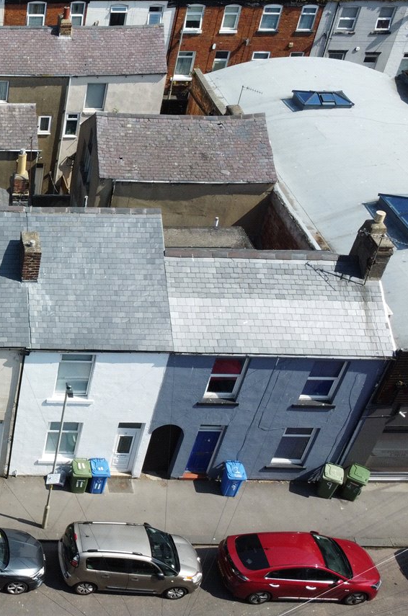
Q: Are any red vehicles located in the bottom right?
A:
Yes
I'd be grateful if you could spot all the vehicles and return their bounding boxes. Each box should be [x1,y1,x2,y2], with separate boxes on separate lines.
[0,524,51,592]
[54,516,202,597]
[221,527,393,606]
